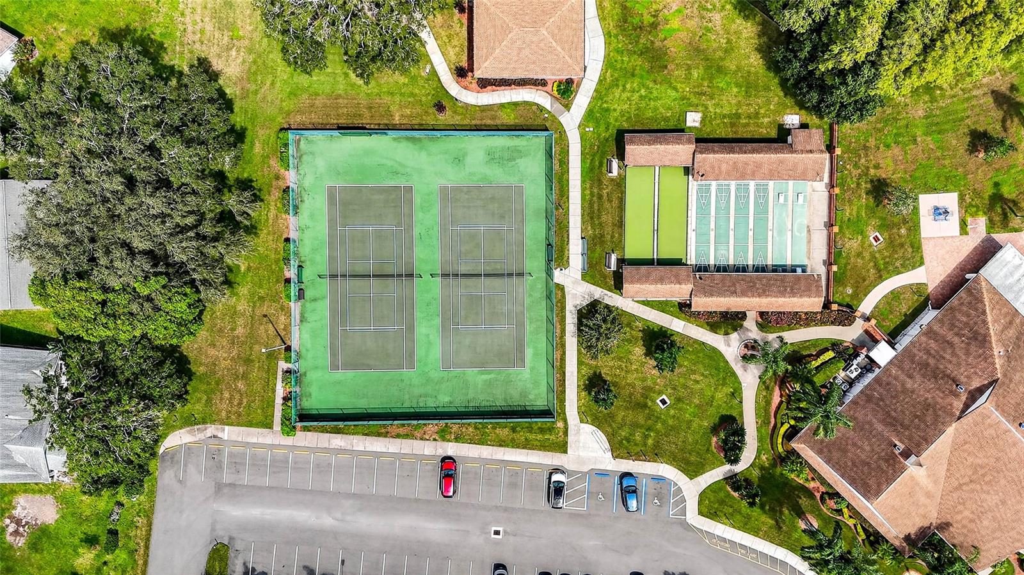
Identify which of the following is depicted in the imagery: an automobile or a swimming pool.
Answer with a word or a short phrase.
automobile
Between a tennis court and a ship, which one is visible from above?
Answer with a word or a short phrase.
tennis court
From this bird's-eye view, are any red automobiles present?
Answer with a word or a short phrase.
Yes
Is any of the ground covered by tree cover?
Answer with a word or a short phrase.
Yes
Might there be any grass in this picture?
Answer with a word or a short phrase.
Yes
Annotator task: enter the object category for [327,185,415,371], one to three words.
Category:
tennis court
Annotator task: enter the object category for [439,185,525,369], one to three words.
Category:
tennis court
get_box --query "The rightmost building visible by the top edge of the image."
[473,0,584,80]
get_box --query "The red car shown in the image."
[440,458,458,495]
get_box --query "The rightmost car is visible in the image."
[619,474,637,511]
